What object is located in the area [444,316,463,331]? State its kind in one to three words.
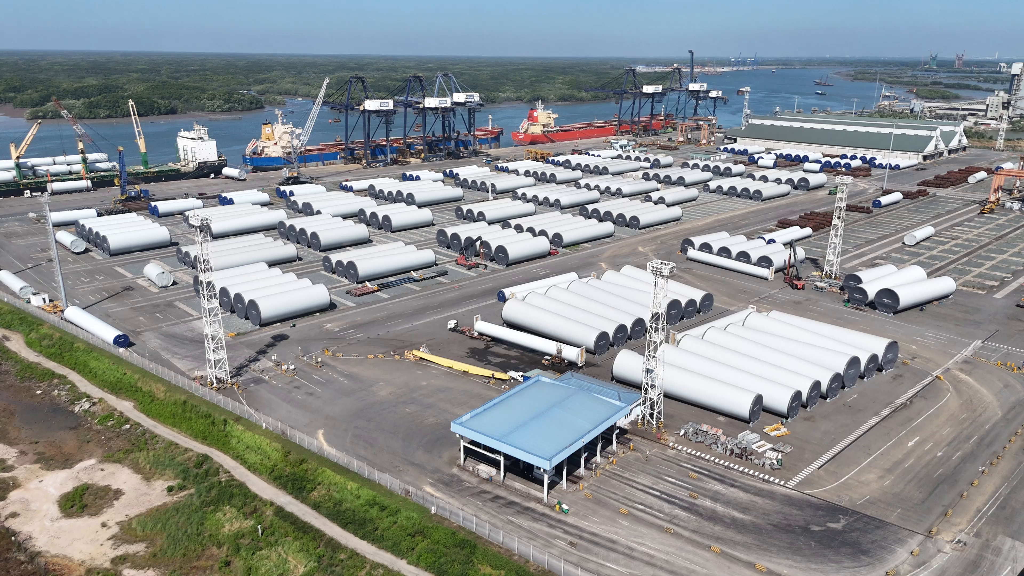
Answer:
vehicle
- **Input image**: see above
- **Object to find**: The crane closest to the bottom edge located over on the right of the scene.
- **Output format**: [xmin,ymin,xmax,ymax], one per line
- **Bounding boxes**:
[991,162,1024,208]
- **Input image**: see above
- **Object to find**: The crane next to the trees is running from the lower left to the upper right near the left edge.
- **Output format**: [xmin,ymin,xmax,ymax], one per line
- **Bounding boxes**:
[8,121,44,180]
